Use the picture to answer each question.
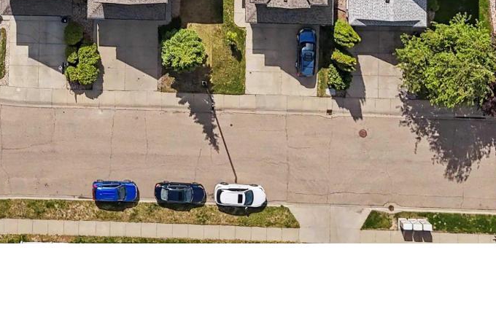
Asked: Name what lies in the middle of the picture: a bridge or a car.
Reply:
car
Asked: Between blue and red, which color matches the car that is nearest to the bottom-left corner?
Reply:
blue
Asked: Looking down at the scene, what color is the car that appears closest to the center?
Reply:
white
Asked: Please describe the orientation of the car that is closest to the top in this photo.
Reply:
vertically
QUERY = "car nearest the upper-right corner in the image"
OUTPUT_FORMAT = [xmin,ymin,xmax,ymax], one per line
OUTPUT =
[294,28,319,77]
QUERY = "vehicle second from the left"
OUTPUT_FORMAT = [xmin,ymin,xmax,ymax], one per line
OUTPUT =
[154,181,204,206]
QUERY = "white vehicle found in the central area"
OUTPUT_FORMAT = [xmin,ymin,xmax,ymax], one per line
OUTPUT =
[214,182,265,210]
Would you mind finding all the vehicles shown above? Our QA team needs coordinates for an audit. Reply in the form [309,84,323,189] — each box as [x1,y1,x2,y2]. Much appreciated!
[154,181,204,206]
[294,28,319,77]
[92,179,138,204]
[214,182,265,210]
